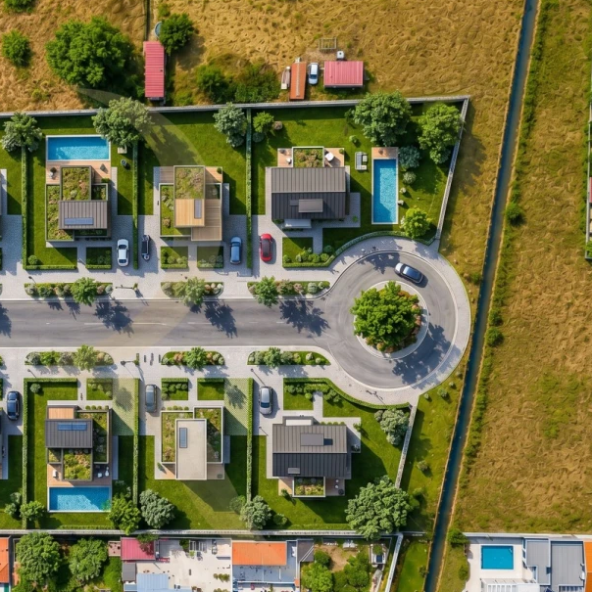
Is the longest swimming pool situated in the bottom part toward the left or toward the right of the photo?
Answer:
left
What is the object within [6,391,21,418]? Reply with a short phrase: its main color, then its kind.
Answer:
blue car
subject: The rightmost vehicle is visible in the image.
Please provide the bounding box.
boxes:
[393,262,426,285]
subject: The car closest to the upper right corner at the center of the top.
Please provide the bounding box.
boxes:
[308,63,320,85]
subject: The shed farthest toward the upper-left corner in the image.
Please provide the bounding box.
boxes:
[145,41,165,102]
